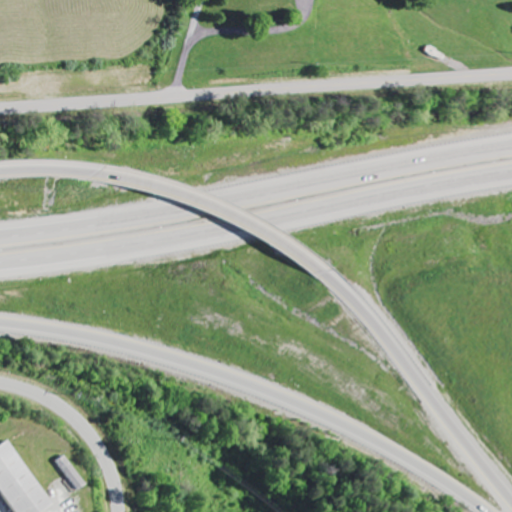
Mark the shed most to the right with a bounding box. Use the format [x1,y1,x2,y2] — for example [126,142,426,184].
[55,456,86,492]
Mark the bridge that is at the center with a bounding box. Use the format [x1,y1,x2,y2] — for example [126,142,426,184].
[90,160,344,292]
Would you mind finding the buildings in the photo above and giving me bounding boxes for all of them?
[55,456,86,492]
[0,441,60,512]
